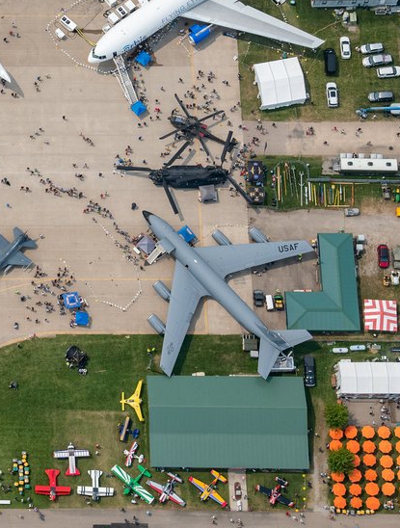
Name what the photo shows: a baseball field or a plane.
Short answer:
plane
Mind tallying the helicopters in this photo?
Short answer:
2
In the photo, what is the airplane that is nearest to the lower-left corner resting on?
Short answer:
grass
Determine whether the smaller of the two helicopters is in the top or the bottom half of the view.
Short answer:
top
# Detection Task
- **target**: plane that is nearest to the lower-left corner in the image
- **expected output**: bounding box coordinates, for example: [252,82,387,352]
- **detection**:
[34,469,72,502]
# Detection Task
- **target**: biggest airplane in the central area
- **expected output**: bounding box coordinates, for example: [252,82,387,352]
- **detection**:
[144,213,316,382]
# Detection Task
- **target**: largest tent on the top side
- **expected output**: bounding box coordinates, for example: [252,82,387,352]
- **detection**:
[251,58,308,111]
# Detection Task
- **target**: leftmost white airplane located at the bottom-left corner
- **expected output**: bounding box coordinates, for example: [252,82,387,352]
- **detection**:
[53,443,90,476]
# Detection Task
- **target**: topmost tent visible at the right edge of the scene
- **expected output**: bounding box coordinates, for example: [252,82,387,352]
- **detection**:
[362,300,399,336]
